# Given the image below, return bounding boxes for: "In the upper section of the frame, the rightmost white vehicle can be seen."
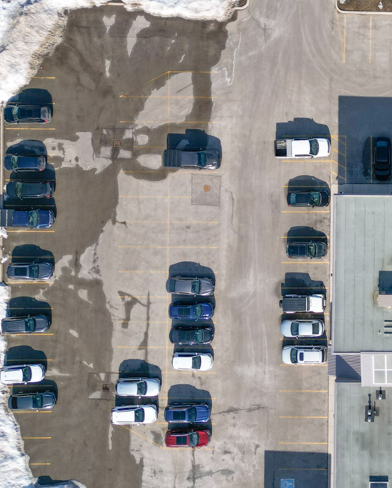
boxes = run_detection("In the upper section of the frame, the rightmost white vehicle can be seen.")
[273,136,331,160]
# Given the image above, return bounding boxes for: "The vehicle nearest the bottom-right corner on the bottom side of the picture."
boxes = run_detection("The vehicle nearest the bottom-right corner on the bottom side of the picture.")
[282,344,326,367]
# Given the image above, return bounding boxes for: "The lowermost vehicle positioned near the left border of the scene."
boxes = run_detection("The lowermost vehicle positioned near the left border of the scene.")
[6,390,58,413]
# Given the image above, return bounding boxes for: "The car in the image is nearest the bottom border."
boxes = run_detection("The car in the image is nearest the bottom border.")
[164,427,211,451]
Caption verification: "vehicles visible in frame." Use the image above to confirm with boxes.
[110,403,159,426]
[281,318,325,340]
[3,103,51,125]
[165,276,214,298]
[6,390,58,413]
[164,427,211,451]
[3,151,46,173]
[280,295,325,314]
[0,313,53,336]
[371,137,392,179]
[5,260,55,282]
[163,402,211,426]
[167,300,214,322]
[114,377,161,400]
[286,239,328,261]
[282,344,326,367]
[273,136,331,160]
[162,148,222,171]
[168,325,214,347]
[0,362,46,385]
[171,352,213,373]
[287,188,330,210]
[0,207,56,230]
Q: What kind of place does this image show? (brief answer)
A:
parking lot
